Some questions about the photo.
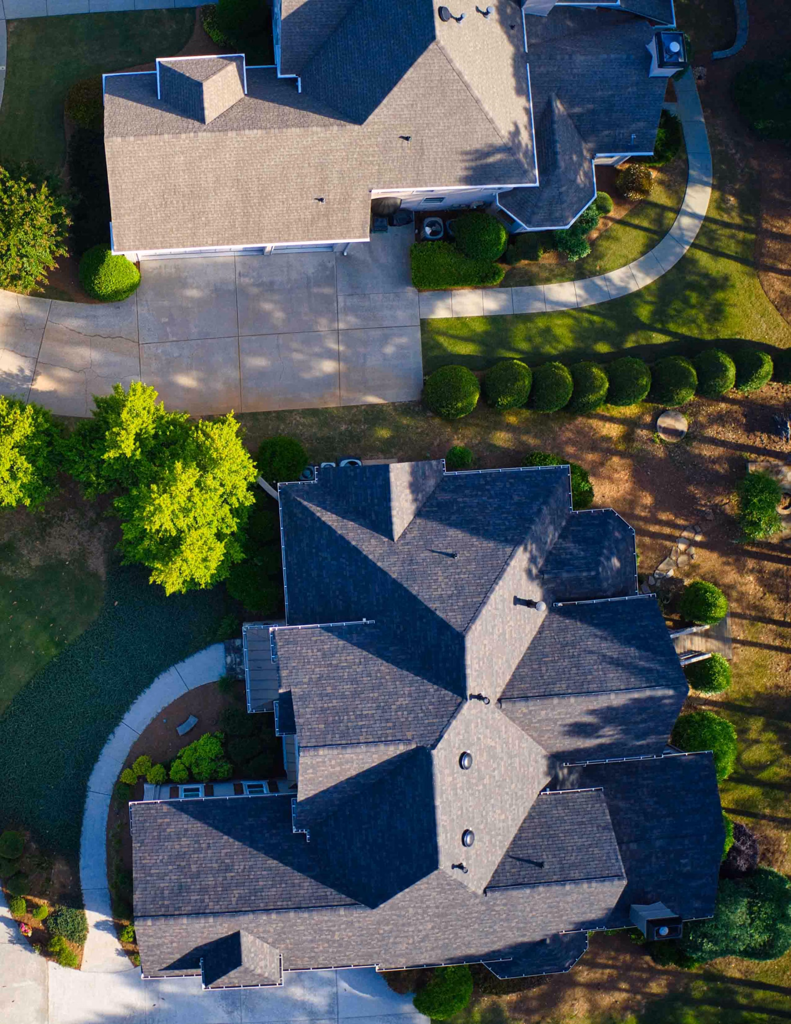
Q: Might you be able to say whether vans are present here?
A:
No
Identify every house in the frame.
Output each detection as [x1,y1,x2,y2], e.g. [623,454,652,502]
[128,459,723,992]
[100,0,686,268]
